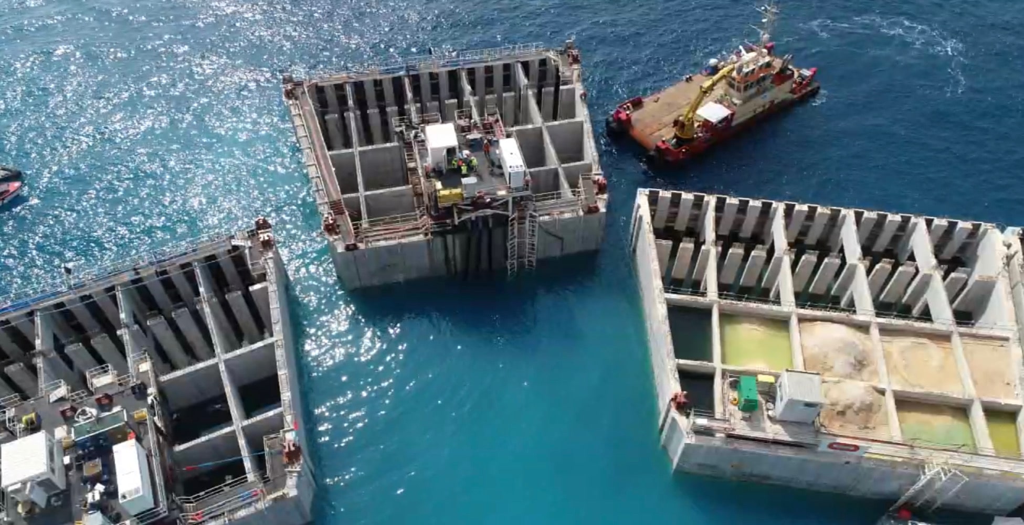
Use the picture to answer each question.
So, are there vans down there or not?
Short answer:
No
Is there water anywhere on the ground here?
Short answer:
Yes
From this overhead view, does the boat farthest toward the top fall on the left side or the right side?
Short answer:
right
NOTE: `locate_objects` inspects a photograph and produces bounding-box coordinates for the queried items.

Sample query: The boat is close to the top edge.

[606,0,825,162]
